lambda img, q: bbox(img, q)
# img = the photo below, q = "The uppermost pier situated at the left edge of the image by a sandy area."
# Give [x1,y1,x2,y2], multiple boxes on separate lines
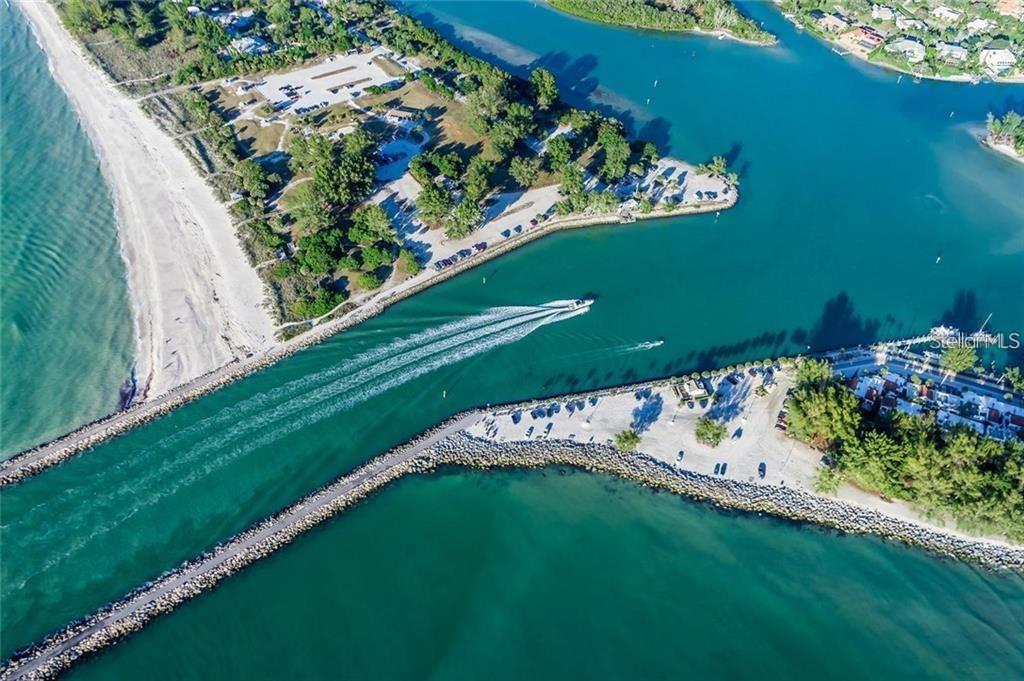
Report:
[0,355,262,485]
